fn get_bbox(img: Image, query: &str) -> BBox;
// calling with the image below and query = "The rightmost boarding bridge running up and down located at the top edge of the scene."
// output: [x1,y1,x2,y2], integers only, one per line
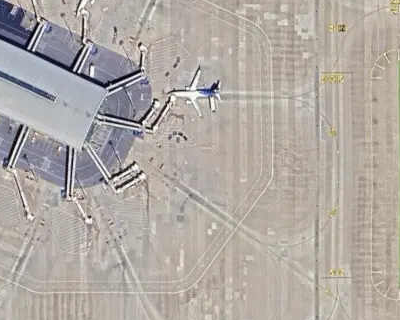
[73,9,97,75]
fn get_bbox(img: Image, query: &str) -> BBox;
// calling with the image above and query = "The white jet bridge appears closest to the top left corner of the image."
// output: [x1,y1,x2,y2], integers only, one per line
[26,0,51,53]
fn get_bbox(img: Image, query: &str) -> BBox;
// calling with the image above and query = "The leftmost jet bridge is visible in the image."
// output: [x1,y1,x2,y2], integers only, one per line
[2,125,34,220]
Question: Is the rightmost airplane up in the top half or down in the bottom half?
top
